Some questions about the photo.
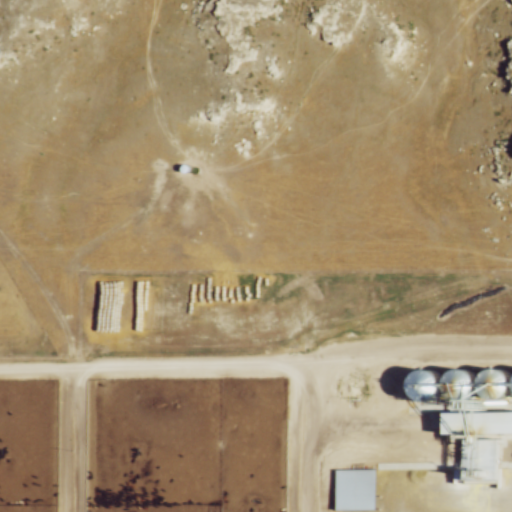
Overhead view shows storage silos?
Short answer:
Yes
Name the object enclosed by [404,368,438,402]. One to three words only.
silo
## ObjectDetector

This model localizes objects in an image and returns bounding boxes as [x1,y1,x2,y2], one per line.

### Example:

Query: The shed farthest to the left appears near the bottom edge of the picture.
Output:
[336,470,376,511]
